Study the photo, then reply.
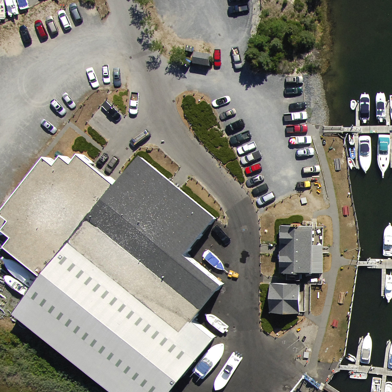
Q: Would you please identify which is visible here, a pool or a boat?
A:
boat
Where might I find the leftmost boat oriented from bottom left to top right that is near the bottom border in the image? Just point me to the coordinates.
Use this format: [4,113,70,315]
[193,344,223,379]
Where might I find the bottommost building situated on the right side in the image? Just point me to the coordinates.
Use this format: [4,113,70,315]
[268,283,302,315]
